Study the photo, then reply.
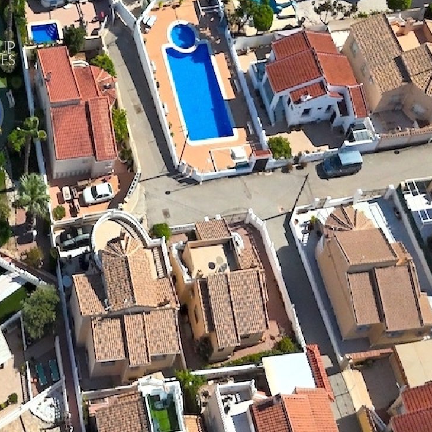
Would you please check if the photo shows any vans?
Yes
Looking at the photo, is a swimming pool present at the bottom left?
No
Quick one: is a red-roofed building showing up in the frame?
Yes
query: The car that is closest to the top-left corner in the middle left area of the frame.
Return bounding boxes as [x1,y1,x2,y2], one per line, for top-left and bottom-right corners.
[80,180,117,203]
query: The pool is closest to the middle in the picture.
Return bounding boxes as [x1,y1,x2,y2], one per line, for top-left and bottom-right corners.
[161,39,240,145]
